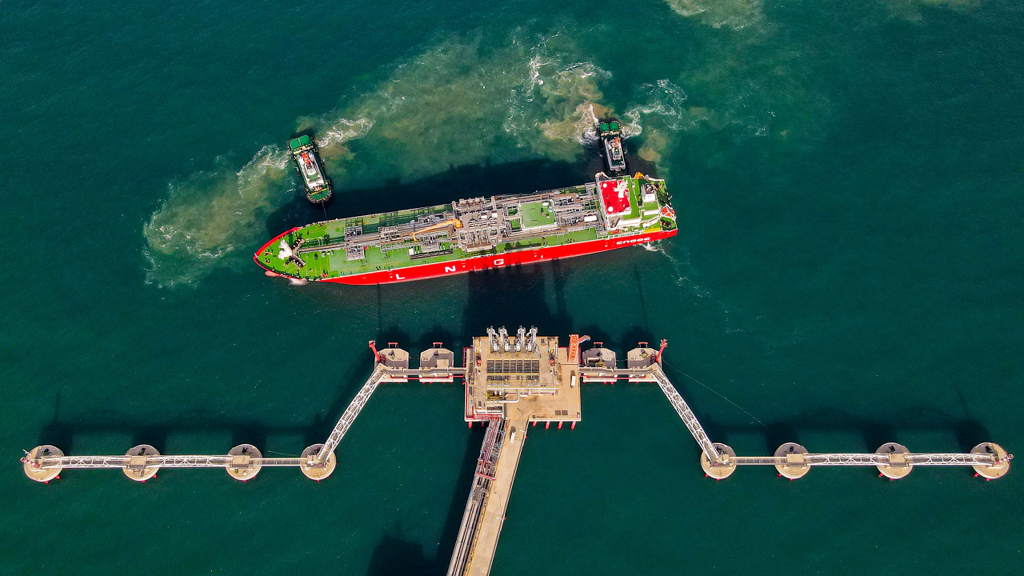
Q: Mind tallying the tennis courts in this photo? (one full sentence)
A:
There are no tennis courts in this view.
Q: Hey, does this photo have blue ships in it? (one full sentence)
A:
No, the scene contains no blue ship.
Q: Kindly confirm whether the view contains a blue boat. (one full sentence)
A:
No, I find no blue boat anywhere in the image.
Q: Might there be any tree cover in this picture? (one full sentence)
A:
No, the scene doesn't show any tree cover.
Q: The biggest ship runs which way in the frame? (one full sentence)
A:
I'd say the biggest ship is aligned horizontally in the picture.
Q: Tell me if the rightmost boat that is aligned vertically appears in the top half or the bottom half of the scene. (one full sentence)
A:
You can find the rightmost boat that is aligned vertically in the top half.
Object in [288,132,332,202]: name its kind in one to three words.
boat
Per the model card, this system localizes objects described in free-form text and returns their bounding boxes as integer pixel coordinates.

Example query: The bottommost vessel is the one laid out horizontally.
[252,170,677,288]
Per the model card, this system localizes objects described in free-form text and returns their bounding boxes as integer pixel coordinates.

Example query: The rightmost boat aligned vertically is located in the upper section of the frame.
[597,121,631,180]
